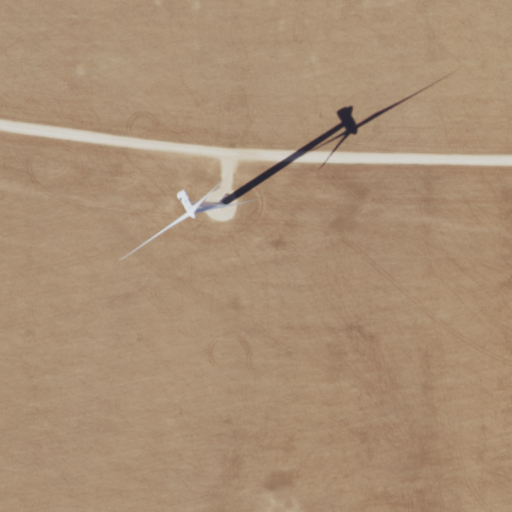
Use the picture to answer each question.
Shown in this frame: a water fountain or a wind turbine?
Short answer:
wind turbine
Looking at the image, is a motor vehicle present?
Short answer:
No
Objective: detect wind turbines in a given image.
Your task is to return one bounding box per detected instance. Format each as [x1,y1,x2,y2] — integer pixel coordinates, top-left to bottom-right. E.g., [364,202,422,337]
[118,182,257,260]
